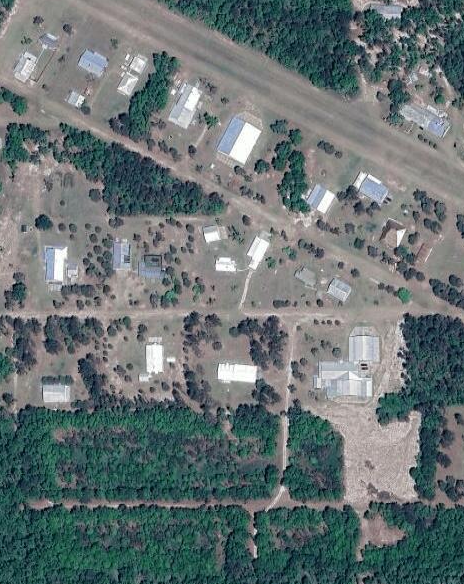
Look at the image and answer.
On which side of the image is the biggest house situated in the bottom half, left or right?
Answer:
right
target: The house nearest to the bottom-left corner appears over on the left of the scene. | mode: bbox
[42,384,69,402]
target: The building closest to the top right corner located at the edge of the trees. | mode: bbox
[370,3,402,19]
